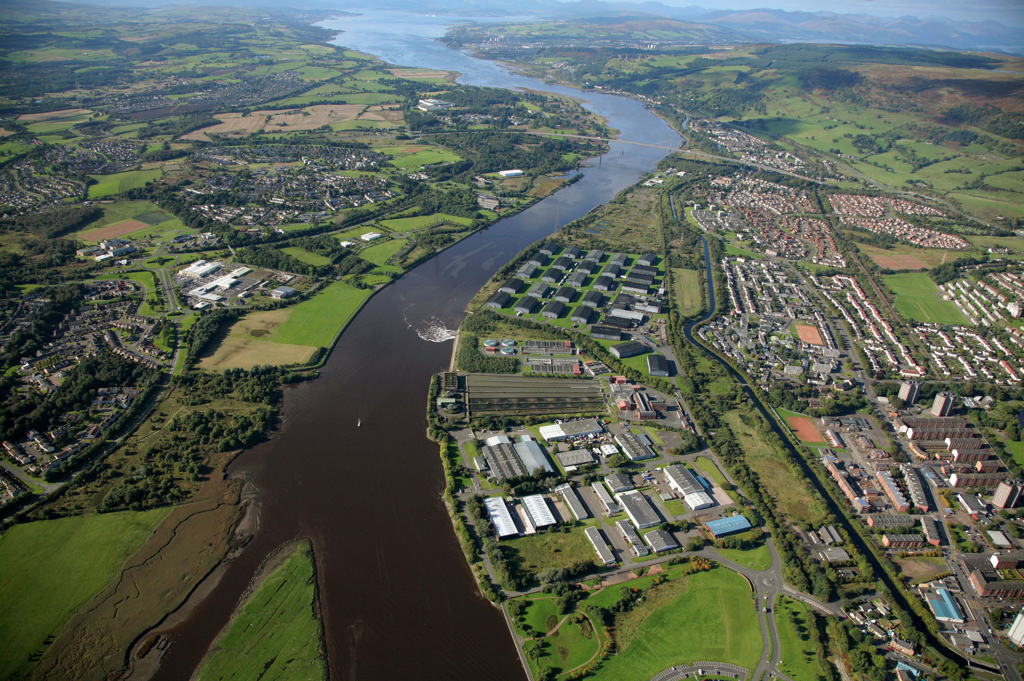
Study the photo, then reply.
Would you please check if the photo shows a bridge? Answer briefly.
Yes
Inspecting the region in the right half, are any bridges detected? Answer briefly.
Yes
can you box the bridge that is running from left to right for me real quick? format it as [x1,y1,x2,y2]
[521,130,812,179]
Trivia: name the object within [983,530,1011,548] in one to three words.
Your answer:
shed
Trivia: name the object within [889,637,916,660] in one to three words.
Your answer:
house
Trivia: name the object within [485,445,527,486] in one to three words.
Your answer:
building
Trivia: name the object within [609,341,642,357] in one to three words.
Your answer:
building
